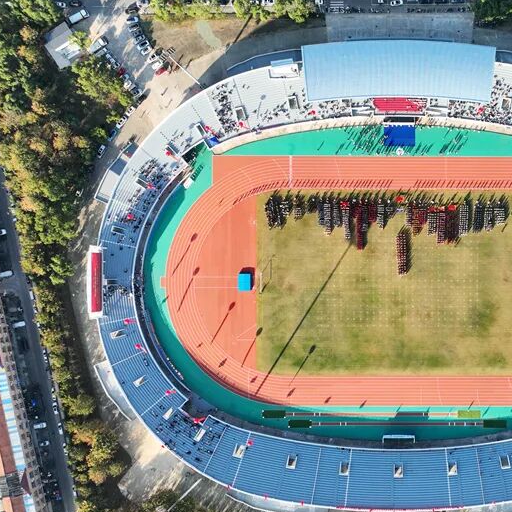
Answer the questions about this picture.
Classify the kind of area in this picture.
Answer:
sports ground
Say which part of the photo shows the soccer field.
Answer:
right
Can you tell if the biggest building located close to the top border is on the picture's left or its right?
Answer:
left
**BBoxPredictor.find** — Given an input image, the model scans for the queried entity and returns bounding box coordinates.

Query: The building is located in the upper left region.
[44,21,89,70]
